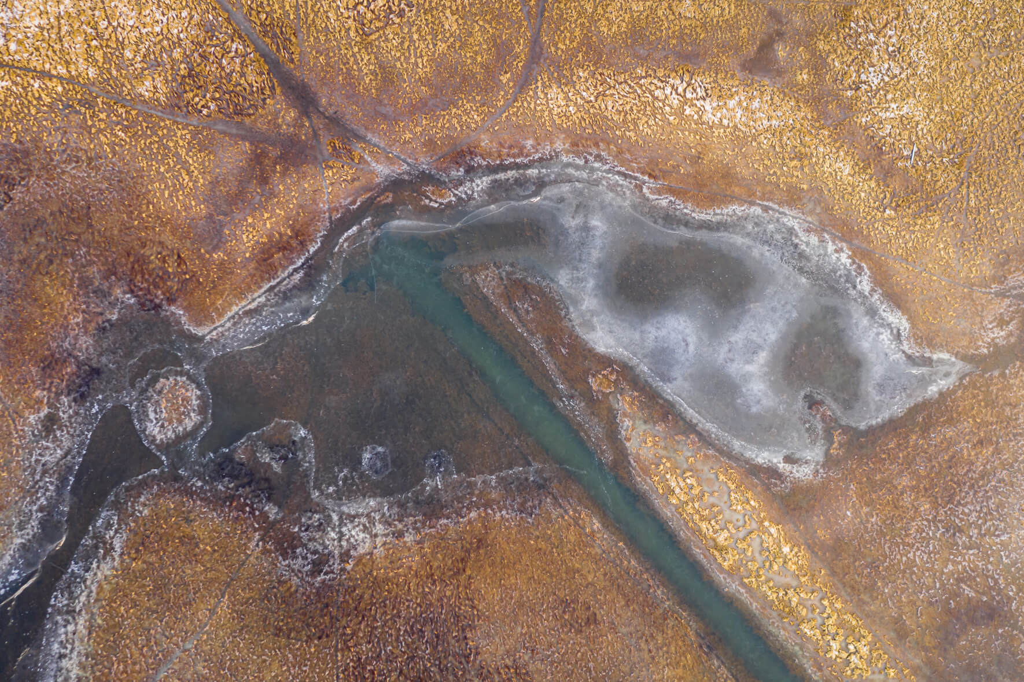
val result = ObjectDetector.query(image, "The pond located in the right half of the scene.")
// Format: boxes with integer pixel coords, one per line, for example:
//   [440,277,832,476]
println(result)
[376,182,977,476]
